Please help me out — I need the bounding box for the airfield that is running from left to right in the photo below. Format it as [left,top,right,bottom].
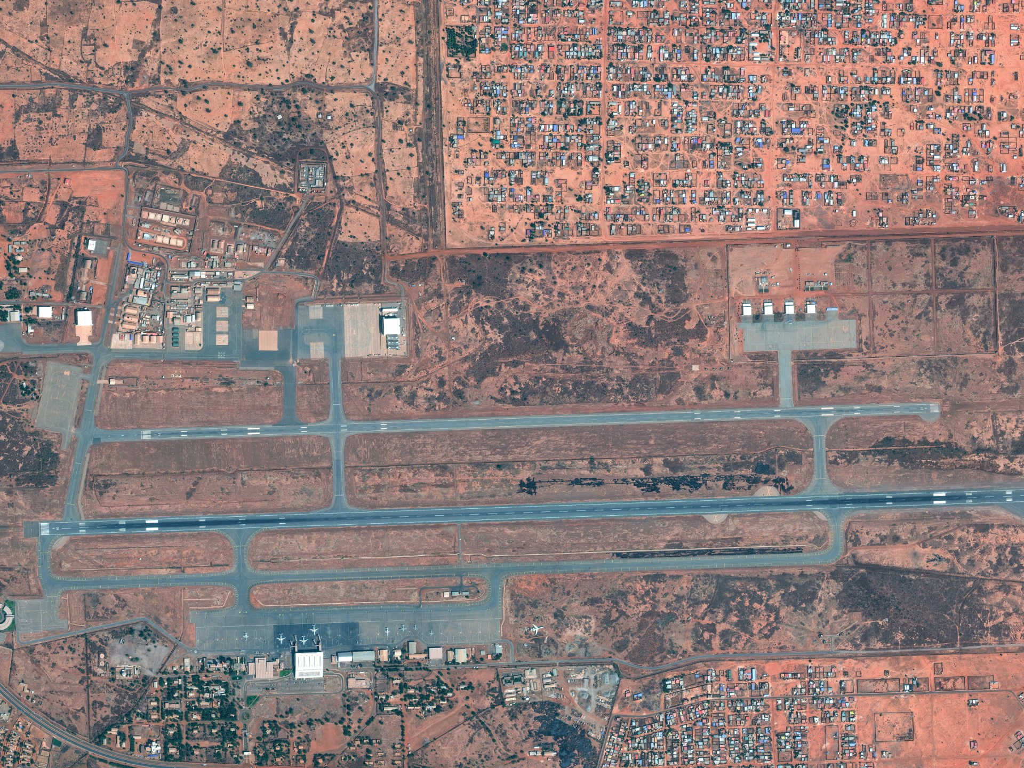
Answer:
[0,246,1024,652]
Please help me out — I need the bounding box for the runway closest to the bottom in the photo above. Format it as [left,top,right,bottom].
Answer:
[39,487,1024,537]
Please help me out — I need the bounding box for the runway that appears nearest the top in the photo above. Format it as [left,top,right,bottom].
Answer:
[100,402,939,442]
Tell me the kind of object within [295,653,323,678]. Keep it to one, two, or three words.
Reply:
building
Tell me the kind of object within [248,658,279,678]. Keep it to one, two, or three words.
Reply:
building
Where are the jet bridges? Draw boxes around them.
[313,634,321,652]
[289,635,297,652]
